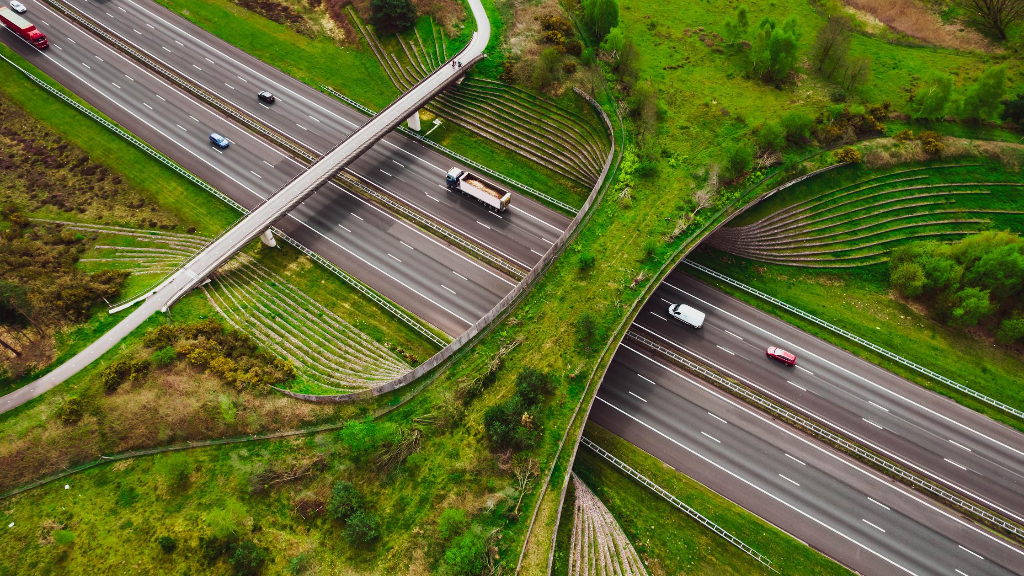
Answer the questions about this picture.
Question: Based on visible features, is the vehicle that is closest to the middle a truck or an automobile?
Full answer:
I'd say the vehicle that is closest to the middle is a truck.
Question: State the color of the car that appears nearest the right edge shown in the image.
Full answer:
The car that appears nearest the right edge looks red in the image.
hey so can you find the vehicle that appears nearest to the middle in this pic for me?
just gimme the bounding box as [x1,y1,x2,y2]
[446,165,511,213]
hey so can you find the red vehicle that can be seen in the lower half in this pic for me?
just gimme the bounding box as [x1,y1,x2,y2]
[766,347,797,367]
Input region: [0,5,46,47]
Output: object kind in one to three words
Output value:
truck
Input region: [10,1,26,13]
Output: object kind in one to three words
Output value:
vehicle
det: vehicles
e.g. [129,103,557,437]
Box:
[668,305,707,331]
[766,347,797,367]
[0,5,46,47]
[446,165,511,213]
[10,1,26,13]
[210,132,230,148]
[257,92,275,104]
